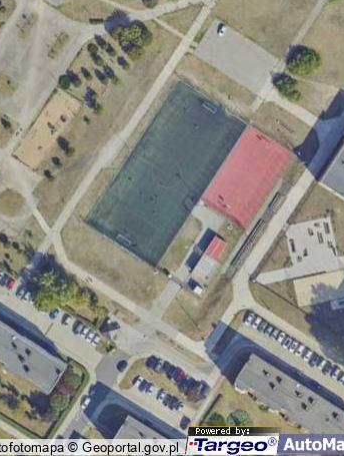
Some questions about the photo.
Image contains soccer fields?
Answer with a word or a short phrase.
Yes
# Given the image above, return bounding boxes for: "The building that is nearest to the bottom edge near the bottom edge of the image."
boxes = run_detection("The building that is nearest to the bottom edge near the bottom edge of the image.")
[110,412,197,456]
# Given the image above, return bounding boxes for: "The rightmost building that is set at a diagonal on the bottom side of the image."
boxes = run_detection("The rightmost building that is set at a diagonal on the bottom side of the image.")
[235,352,344,451]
